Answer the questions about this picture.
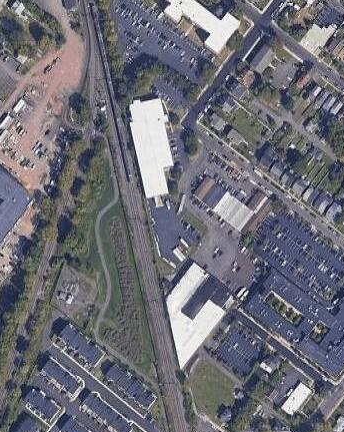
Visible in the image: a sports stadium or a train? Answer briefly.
train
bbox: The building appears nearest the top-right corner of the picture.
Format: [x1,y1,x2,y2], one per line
[317,2,344,26]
